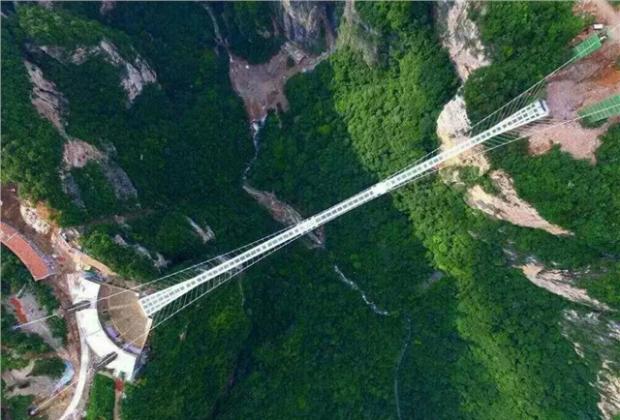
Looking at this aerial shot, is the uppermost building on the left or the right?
left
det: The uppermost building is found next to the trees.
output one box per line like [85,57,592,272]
[0,220,54,280]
